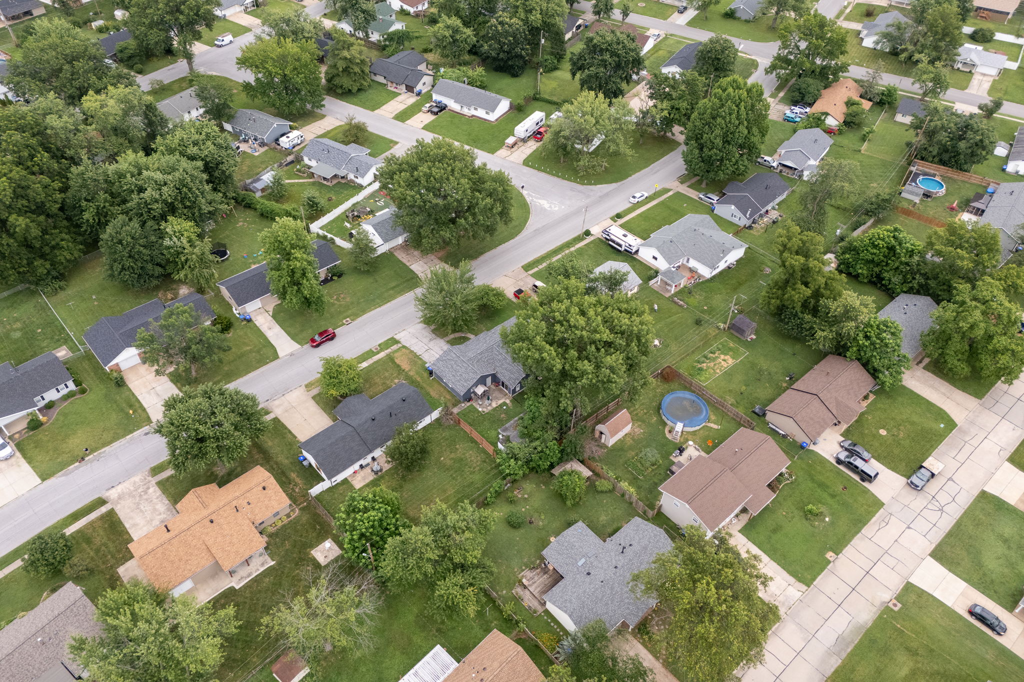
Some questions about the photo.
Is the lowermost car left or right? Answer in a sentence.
You can find the lowermost car on the right side of the picture.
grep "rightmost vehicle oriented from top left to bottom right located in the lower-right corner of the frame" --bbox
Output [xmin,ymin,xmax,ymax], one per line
[966,603,1009,637]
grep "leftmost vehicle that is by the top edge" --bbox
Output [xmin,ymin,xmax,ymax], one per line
[213,32,235,46]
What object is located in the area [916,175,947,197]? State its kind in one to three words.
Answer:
swimming pool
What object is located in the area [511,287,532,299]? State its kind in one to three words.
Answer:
vehicle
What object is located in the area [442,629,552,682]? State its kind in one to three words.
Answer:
house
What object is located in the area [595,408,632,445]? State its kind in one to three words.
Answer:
shed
